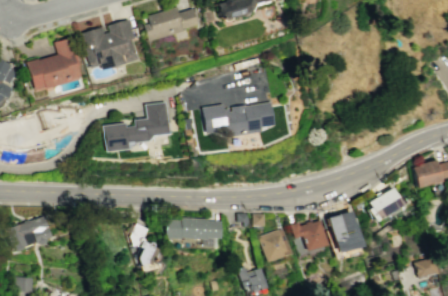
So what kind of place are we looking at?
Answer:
residential area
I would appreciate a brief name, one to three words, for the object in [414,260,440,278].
house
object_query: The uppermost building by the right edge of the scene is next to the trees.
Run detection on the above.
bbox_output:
[414,160,448,188]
